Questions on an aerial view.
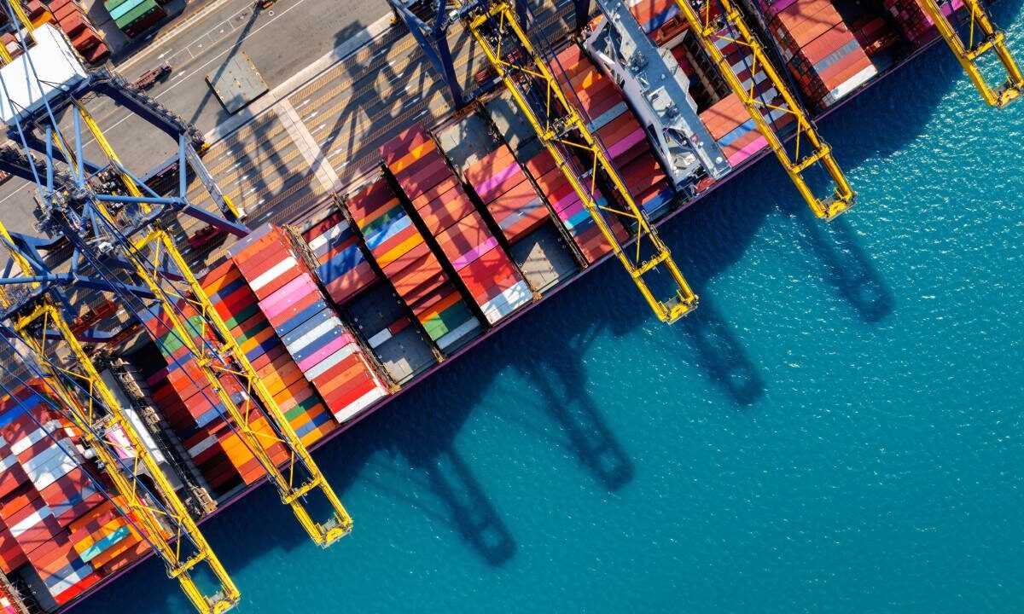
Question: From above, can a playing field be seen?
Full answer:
No, the frame has no playing field in it.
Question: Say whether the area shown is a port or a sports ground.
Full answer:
The area seen from above is a port.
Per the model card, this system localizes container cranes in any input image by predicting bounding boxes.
[0,0,350,549]
[923,0,1024,104]
[385,0,702,319]
[0,149,240,614]
[675,0,857,218]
